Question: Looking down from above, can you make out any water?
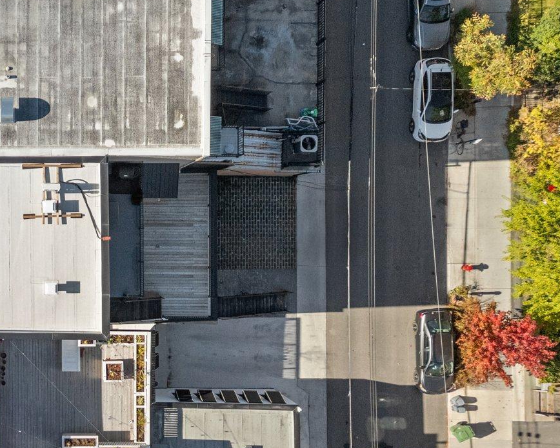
No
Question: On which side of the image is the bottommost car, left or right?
right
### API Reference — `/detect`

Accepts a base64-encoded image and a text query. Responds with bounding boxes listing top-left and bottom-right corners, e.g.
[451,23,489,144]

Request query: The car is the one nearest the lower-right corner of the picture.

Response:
[413,309,458,393]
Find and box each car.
[410,60,457,142]
[409,0,457,50]
[413,309,458,393]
